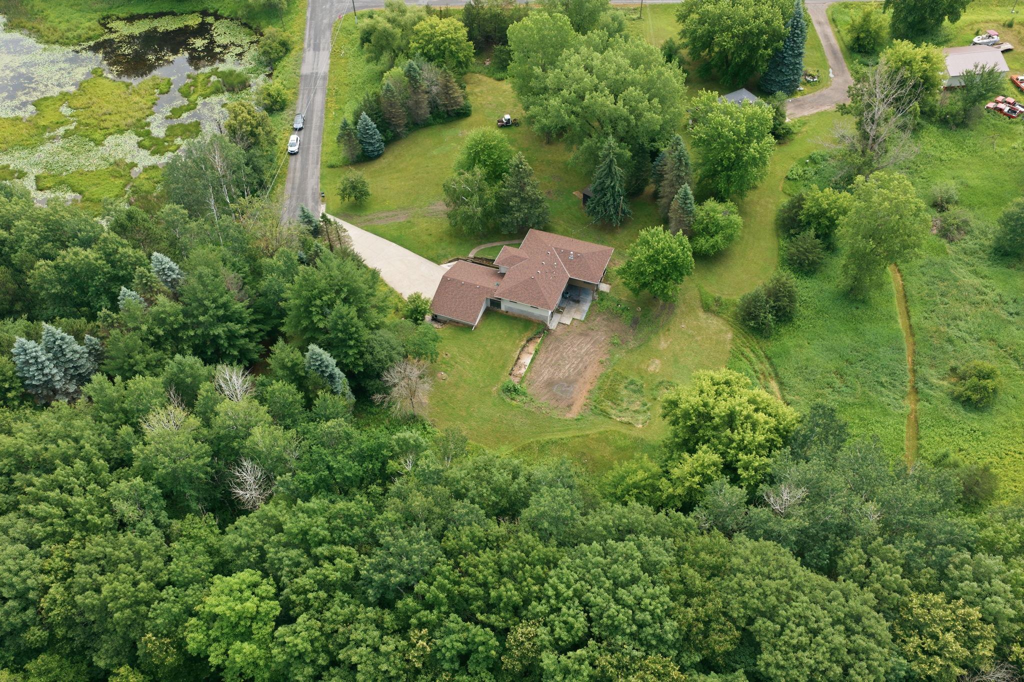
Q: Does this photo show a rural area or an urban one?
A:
rural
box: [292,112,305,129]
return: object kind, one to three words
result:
vehicle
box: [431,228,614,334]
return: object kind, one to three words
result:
house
